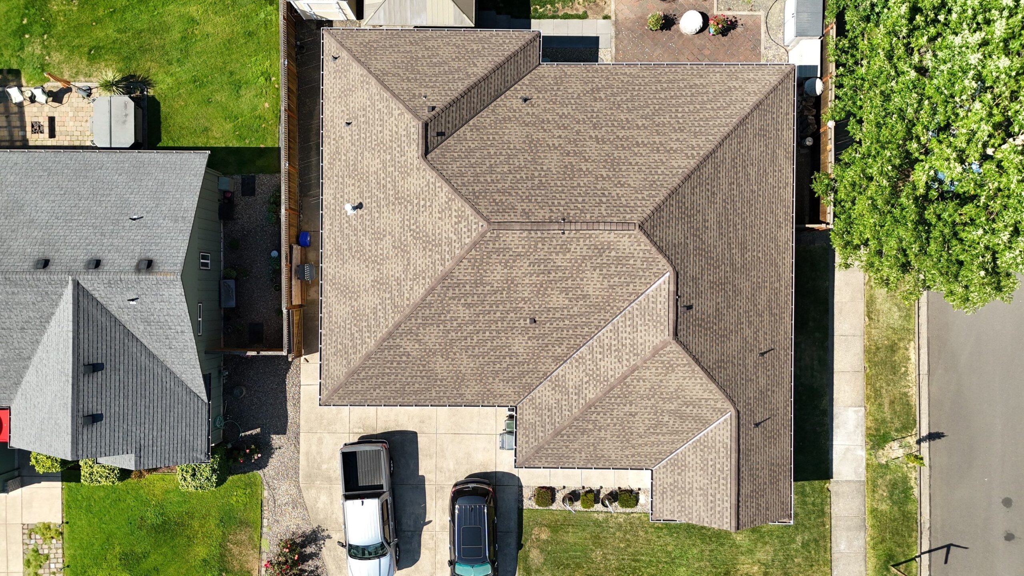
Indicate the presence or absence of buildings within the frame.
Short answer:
Yes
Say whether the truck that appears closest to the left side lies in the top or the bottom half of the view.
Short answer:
bottom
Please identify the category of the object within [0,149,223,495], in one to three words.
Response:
house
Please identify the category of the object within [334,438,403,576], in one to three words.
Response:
truck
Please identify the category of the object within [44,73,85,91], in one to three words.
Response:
umbrella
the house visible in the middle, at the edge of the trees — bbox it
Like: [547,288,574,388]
[319,28,795,535]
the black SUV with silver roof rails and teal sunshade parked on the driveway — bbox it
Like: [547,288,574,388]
[445,475,503,576]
